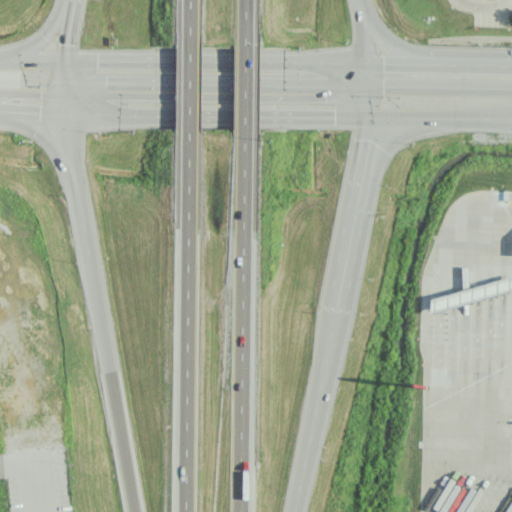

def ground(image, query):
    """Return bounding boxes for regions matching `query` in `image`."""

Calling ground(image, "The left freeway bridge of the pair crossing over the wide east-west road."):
[174,44,203,134]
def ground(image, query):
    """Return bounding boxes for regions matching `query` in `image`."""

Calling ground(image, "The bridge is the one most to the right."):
[233,44,260,134]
